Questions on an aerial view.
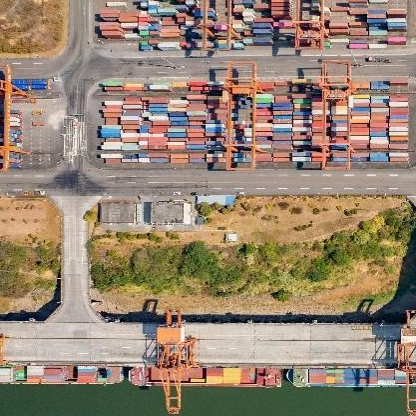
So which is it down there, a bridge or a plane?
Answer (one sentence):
Looking from above, you can make out a bridge.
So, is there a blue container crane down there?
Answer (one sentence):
No, this view has no blue container crane in it.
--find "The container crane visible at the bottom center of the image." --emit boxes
[157,308,205,416]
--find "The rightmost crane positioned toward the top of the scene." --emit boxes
[318,60,358,172]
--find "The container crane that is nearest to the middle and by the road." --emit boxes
[222,61,269,172]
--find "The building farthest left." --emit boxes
[99,202,136,223]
